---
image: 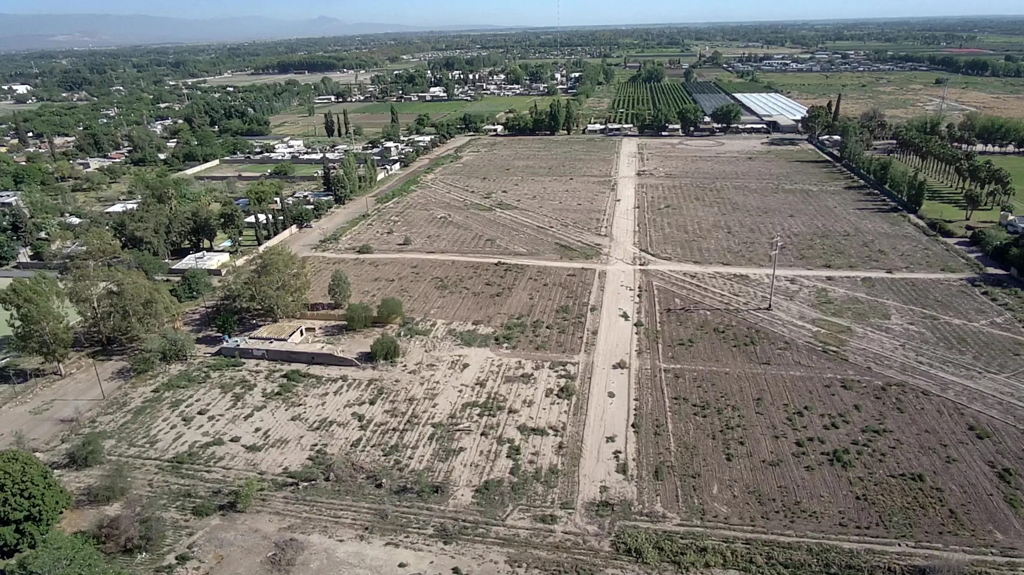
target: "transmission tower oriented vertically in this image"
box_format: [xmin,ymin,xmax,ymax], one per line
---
[937,77,952,114]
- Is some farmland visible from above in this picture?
Yes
